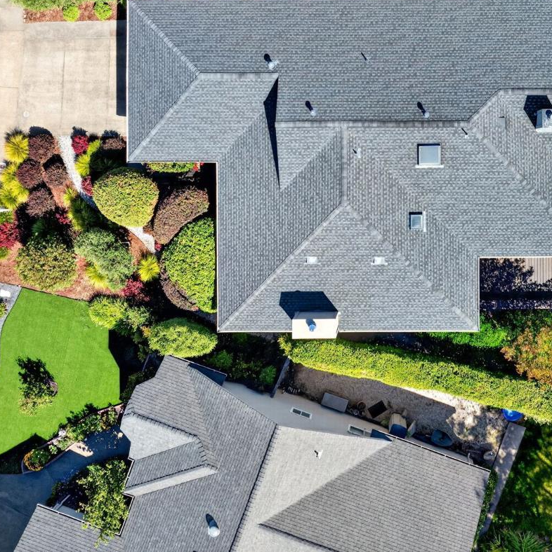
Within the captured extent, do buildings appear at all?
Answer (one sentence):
Yes, there's a building down there.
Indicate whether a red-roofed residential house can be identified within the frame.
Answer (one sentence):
No, the picture doesn't show any red-roofed residential house.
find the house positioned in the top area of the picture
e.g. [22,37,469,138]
[126,0,552,341]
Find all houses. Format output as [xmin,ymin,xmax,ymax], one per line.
[126,0,552,341]
[13,353,488,552]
